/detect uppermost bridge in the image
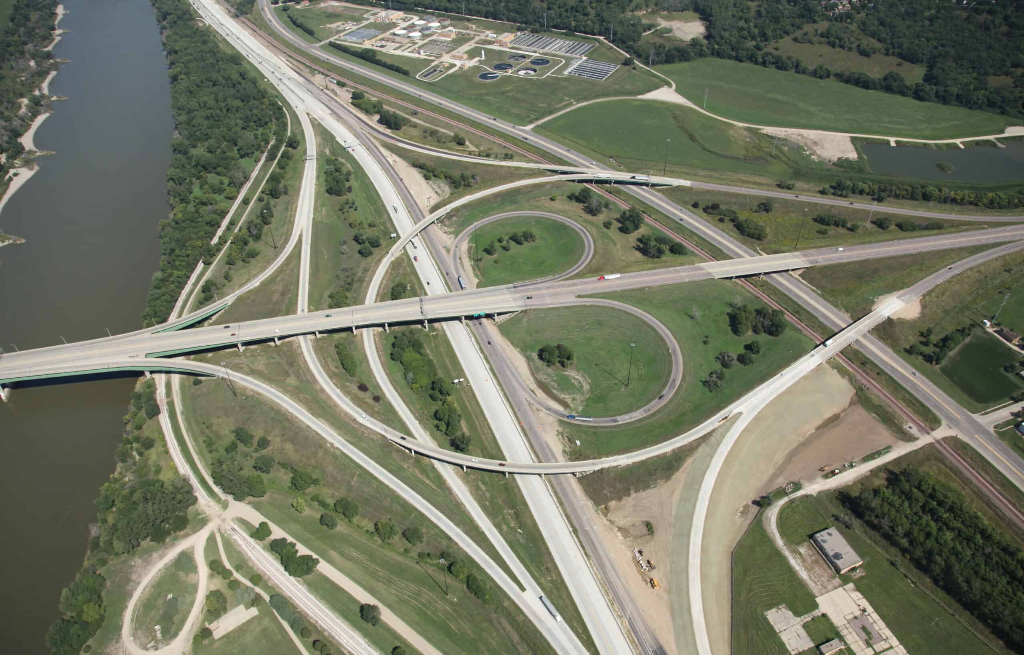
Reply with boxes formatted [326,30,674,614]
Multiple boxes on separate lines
[537,164,675,189]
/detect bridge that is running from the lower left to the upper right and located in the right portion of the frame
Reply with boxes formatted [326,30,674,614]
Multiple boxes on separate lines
[801,303,896,368]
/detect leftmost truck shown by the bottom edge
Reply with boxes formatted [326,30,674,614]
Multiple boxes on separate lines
[539,594,562,624]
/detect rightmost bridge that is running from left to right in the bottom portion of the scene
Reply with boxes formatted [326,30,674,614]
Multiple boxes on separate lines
[388,431,598,478]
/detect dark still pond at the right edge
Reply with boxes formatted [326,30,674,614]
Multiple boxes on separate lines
[861,138,1024,182]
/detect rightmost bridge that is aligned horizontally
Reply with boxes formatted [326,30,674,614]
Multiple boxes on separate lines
[697,251,810,281]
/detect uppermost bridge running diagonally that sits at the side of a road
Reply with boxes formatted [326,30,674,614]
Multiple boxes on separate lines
[389,203,454,256]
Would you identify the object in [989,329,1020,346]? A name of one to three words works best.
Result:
house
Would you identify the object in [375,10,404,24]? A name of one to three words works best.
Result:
building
